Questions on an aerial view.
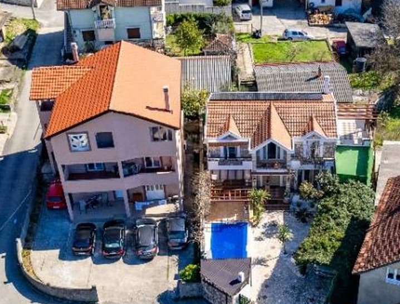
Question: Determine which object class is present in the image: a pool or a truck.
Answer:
pool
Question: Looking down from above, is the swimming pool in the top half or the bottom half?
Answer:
bottom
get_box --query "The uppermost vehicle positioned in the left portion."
[44,177,67,207]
